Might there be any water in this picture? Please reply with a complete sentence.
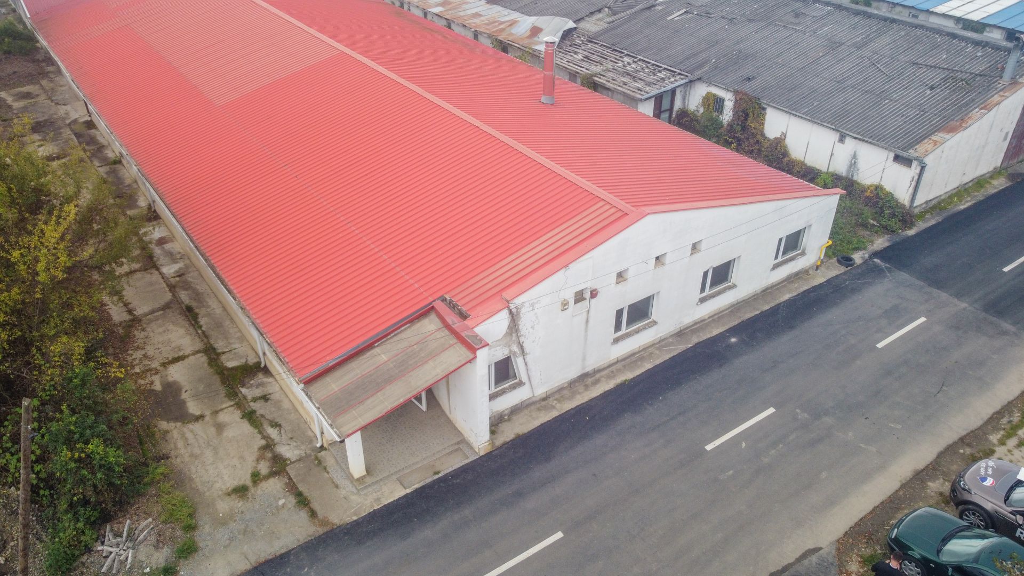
No, there's no water in this view.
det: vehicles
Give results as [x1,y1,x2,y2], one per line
[884,506,1024,576]
[950,455,1024,540]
